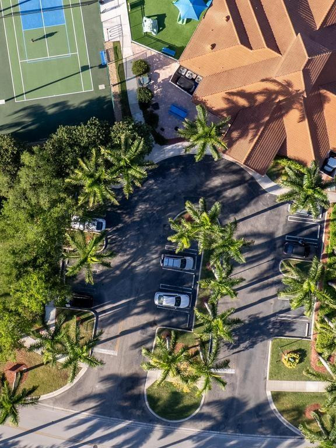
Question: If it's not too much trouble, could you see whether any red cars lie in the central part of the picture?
No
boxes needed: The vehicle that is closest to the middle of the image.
[161,254,195,272]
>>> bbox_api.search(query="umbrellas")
[174,0,208,21]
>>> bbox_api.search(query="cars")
[288,201,322,216]
[161,254,195,272]
[280,240,315,257]
[154,290,190,309]
[72,216,106,232]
